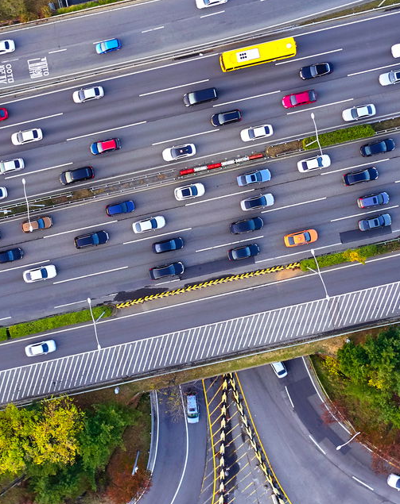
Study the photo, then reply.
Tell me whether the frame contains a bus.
Yes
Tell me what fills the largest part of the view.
paved ground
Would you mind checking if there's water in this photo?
No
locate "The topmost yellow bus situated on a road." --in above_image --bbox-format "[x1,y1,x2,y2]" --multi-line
[217,38,299,72]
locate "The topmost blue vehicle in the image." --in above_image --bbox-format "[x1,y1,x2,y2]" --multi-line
[96,38,123,54]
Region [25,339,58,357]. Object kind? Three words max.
car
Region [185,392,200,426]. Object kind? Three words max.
vehicle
